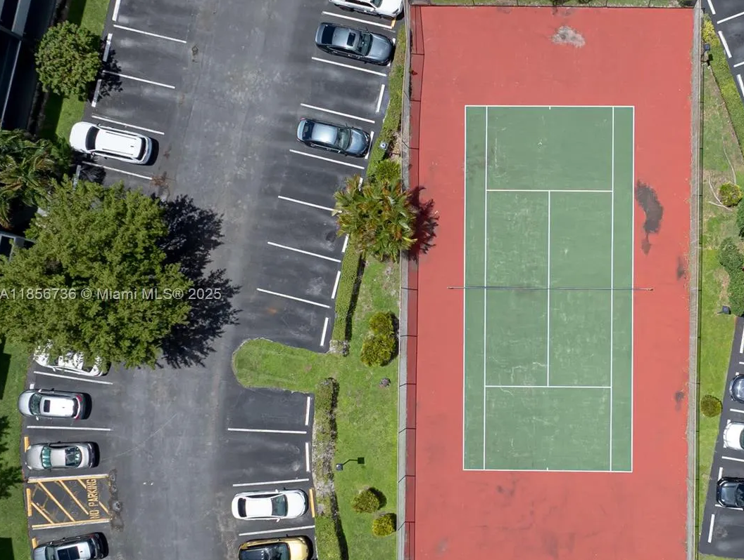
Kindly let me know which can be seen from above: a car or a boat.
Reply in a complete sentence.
I can see a car in this picture.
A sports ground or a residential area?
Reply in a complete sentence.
This looks like a sports ground.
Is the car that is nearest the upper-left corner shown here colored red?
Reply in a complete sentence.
No, from above the car that is nearest the upper-left corner looks white.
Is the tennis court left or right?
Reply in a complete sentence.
The tennis court is on the right side of the image.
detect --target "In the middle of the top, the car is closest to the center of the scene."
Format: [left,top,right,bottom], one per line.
[297,116,370,158]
